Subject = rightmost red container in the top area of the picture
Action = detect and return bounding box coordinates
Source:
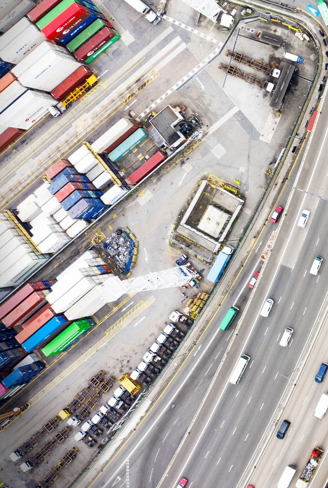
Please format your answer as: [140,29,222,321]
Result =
[128,151,169,186]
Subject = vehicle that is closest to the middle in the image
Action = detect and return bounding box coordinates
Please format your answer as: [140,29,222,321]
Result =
[175,251,190,269]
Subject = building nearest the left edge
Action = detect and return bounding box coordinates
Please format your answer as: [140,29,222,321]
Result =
[146,105,202,149]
